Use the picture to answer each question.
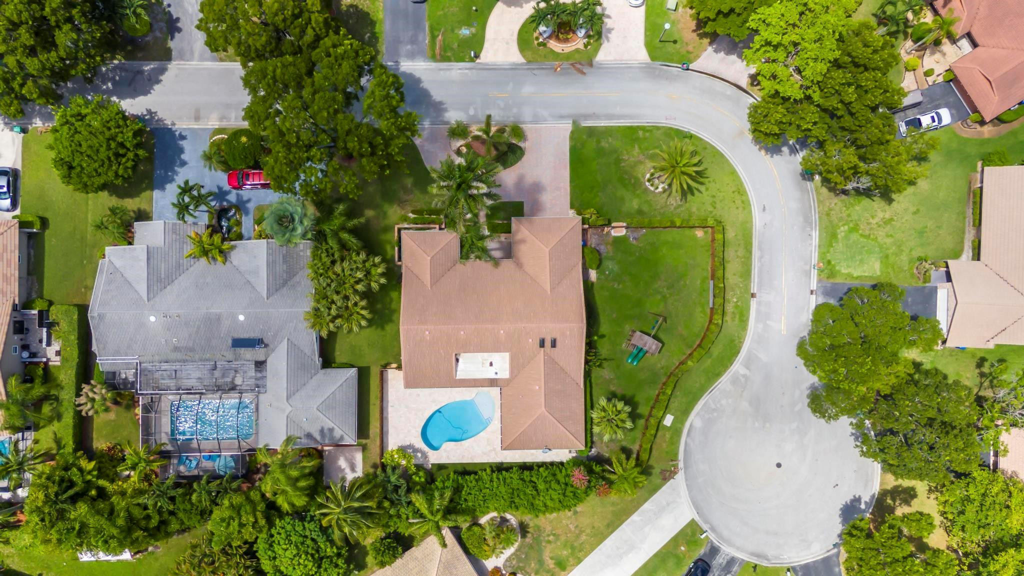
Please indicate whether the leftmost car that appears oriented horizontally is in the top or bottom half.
top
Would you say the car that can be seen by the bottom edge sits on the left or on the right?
right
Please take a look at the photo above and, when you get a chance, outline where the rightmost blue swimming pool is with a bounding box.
[418,388,498,453]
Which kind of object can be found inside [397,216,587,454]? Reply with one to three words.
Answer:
house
